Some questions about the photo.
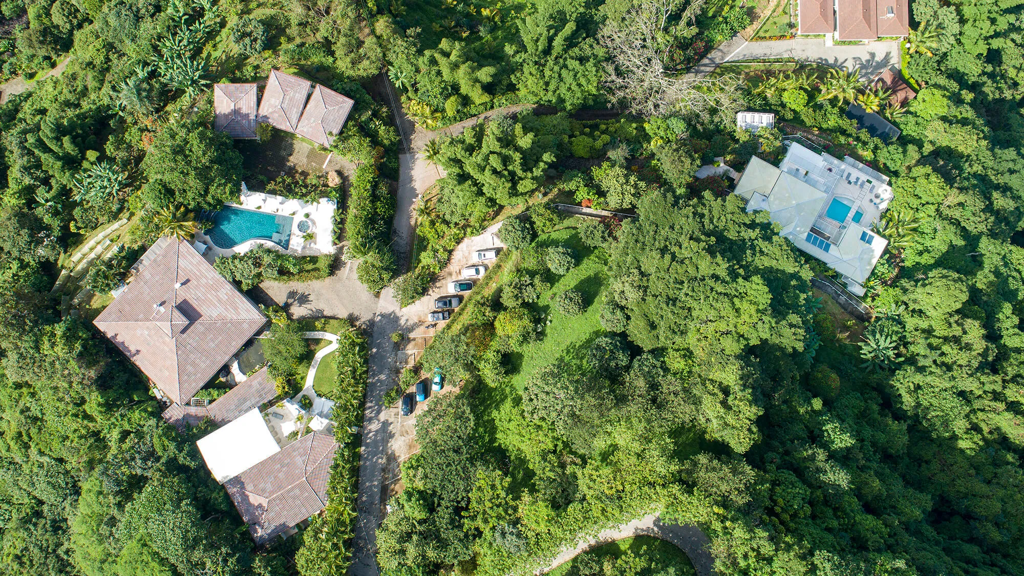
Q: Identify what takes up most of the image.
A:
trees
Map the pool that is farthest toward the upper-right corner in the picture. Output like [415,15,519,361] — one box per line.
[822,193,867,227]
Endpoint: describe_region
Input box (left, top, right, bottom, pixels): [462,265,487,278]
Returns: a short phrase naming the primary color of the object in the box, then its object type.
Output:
white vehicle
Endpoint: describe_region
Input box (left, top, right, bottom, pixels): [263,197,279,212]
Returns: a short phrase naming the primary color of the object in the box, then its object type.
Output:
white umbrella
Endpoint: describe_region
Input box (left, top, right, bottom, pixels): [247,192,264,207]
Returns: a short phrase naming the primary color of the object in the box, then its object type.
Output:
white umbrella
